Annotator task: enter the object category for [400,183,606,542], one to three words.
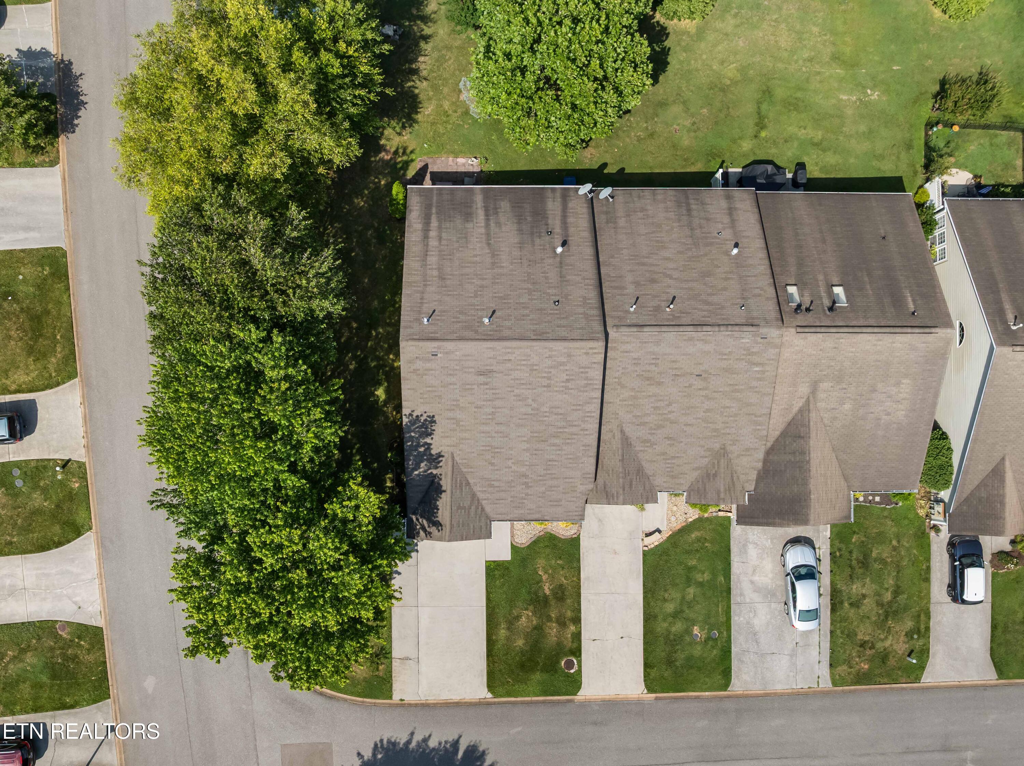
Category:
house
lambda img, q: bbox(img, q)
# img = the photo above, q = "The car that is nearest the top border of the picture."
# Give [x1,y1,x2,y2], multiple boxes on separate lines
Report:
[0,411,25,448]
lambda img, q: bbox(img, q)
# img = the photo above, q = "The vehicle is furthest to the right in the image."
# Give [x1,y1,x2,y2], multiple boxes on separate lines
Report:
[941,539,988,609]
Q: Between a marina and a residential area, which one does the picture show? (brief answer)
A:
residential area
